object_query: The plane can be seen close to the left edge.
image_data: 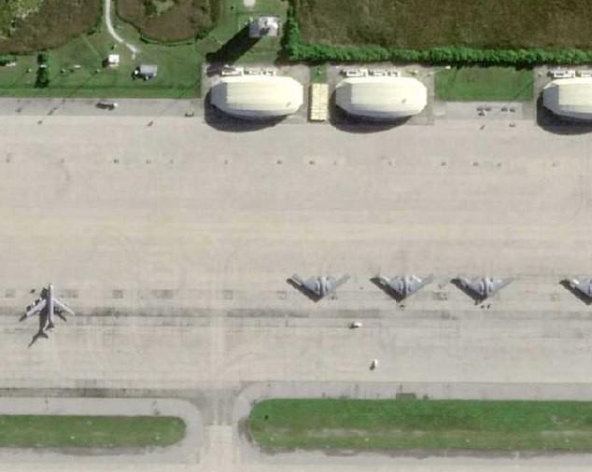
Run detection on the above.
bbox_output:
[28,285,75,333]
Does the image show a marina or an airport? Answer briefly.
airport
